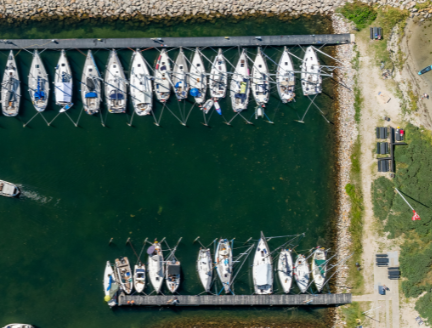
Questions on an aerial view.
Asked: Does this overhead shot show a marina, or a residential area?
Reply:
marina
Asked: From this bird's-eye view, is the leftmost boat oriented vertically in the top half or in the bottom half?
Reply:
top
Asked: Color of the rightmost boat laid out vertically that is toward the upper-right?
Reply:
white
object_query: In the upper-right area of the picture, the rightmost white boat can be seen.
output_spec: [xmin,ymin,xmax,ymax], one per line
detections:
[299,44,334,121]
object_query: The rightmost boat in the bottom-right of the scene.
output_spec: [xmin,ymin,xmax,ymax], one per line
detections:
[310,248,338,294]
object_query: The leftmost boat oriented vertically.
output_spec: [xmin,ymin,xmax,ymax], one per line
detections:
[0,49,22,121]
